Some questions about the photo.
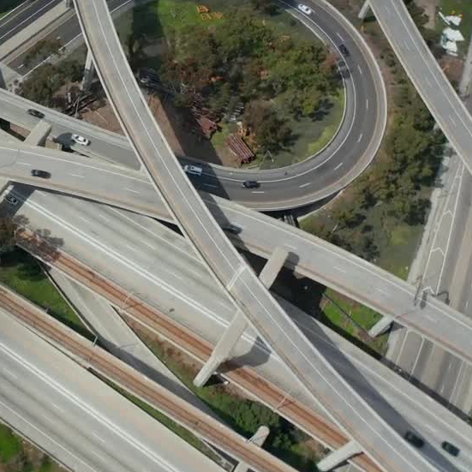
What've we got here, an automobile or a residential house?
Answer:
automobile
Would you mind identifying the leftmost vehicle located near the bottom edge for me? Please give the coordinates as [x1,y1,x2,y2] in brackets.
[402,429,428,448]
